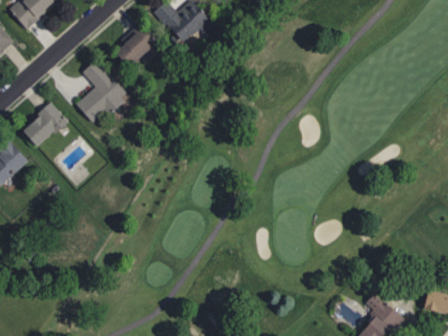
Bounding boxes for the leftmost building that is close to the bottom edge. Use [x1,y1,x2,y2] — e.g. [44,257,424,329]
[359,293,404,336]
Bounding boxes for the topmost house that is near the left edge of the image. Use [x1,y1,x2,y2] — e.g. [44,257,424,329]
[12,0,54,26]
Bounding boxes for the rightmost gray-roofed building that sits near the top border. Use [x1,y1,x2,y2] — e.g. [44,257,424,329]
[156,2,210,44]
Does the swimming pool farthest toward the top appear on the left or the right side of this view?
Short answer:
left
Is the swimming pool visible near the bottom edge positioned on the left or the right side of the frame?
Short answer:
right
